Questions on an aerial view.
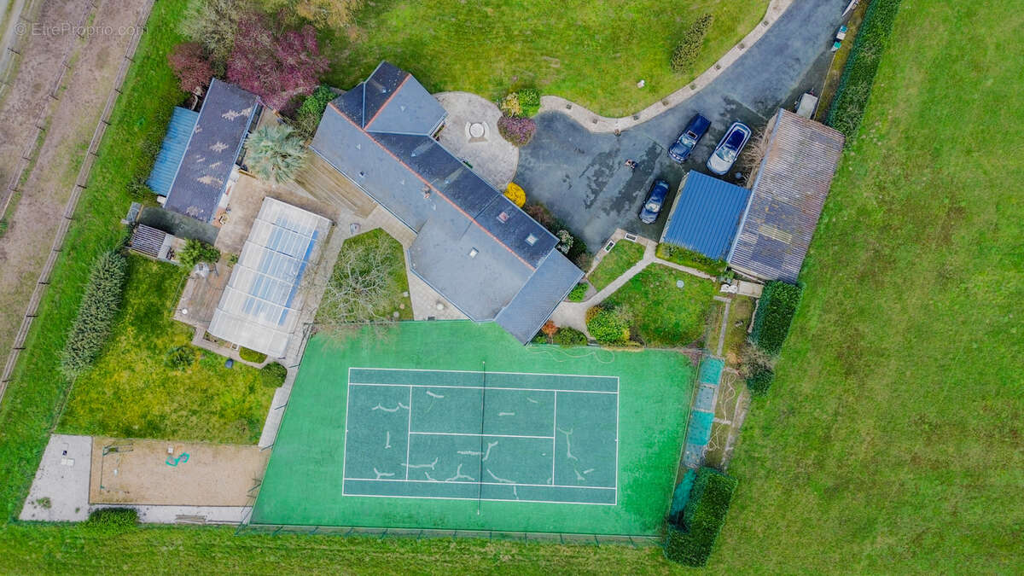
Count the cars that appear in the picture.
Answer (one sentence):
The photo contains 3 cars.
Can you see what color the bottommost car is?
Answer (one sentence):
The bottommost car is blue.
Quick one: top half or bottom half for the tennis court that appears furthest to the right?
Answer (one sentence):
The tennis court that appears furthest to the right is in the bottom half of the image.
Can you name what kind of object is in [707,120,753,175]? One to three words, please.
car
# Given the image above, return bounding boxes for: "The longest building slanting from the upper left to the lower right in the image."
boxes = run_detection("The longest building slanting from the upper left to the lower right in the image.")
[308,59,584,346]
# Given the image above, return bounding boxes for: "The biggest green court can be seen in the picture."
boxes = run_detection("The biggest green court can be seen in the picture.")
[250,321,701,538]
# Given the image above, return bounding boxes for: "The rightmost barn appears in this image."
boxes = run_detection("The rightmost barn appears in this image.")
[720,108,845,284]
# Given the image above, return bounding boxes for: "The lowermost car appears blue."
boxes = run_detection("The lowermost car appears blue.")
[640,179,670,225]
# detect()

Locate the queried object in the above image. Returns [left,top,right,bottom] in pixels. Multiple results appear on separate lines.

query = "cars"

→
[707,120,753,175]
[640,179,670,225]
[666,112,713,166]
